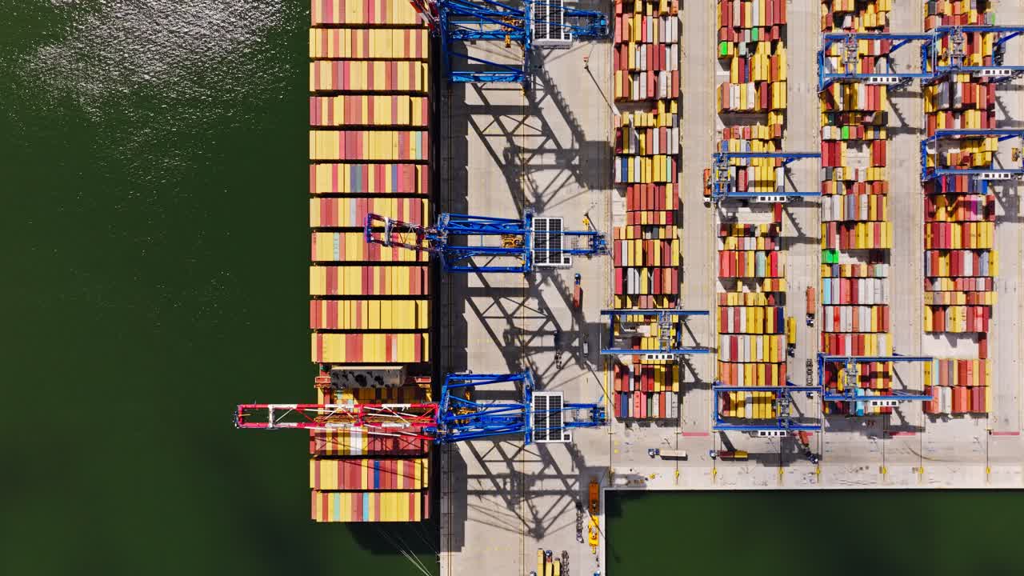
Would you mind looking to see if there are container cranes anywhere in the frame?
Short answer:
Yes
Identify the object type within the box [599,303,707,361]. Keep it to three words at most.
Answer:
container crane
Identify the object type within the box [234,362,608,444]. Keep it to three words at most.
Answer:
container crane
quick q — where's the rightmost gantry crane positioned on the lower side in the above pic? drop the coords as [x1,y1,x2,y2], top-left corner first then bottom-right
[818,348,934,409]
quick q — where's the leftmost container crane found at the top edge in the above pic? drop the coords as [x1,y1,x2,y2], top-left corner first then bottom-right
[407,0,608,100]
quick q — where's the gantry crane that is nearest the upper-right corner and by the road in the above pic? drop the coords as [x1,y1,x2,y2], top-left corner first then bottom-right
[921,25,1024,91]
